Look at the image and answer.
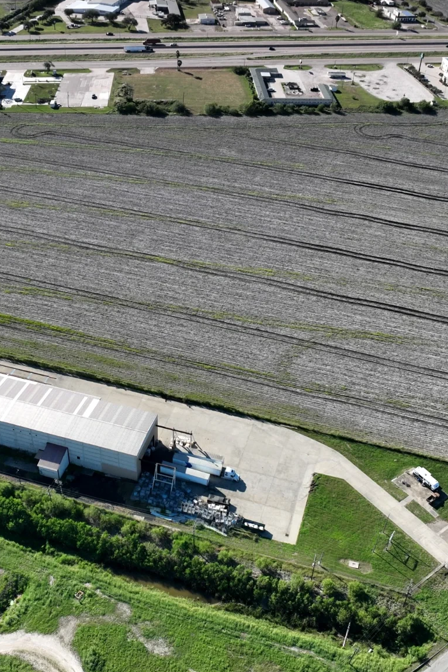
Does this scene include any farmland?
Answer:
Yes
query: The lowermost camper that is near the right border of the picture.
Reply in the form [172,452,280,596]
[413,465,439,489]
